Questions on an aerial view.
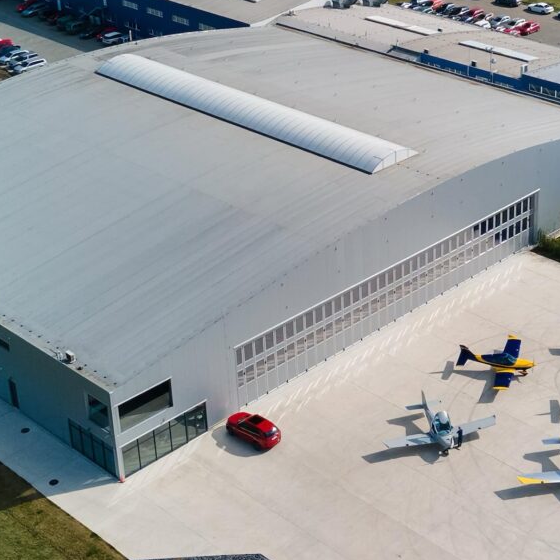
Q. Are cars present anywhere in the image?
Yes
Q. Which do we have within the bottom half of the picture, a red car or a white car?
red car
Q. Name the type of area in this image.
airport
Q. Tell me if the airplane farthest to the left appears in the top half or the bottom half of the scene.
bottom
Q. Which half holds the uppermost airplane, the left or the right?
right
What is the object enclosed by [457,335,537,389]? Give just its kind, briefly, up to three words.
airplane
